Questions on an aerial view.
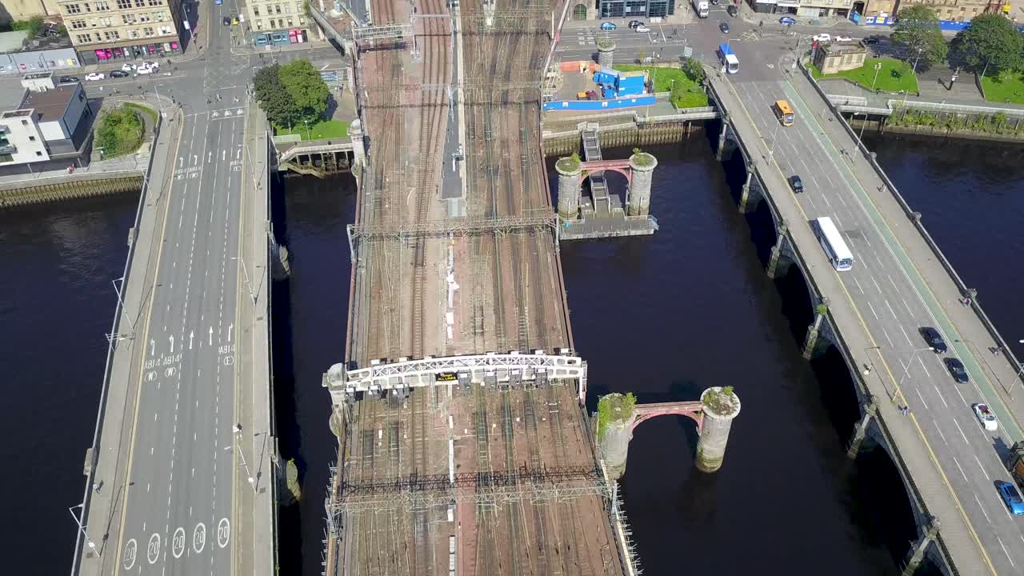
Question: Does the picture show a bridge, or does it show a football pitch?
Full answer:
Looking from above, you can make out a bridge.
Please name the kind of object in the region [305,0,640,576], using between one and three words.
bridge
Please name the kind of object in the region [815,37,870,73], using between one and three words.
building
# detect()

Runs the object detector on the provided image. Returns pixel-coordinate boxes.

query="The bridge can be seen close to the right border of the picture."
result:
[702,72,1024,576]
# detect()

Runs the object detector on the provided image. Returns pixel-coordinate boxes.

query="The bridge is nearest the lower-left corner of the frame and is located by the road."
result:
[70,96,300,576]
